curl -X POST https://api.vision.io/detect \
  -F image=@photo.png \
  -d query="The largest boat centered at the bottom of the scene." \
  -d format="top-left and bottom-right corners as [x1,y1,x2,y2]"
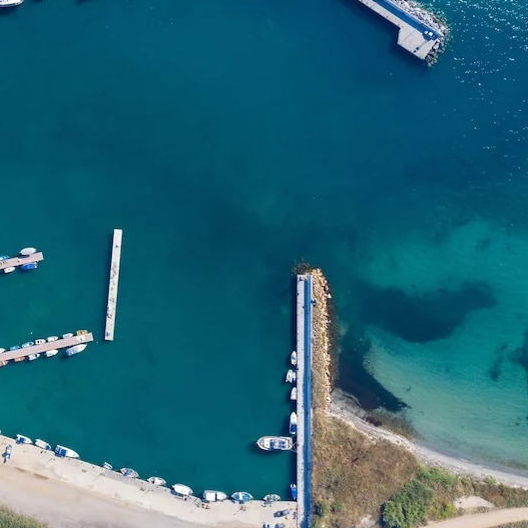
[257,436,297,450]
